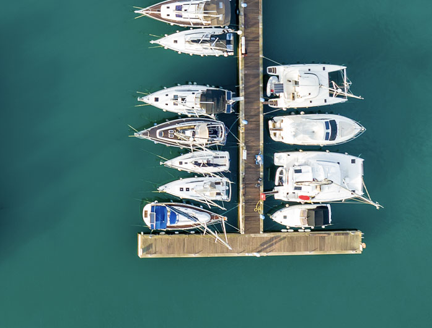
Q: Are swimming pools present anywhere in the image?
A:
No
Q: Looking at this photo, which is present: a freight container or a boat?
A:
boat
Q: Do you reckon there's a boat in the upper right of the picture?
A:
Yes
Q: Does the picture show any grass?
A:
No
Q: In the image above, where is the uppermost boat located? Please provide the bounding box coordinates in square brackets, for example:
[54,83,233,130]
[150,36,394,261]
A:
[131,0,243,34]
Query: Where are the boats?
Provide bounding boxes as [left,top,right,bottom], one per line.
[266,202,337,232]
[147,147,238,183]
[134,117,242,153]
[262,150,383,203]
[132,82,244,119]
[131,0,243,34]
[266,76,278,96]
[262,60,366,111]
[139,25,243,59]
[130,201,242,243]
[156,175,240,207]
[275,166,285,188]
[264,111,370,147]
